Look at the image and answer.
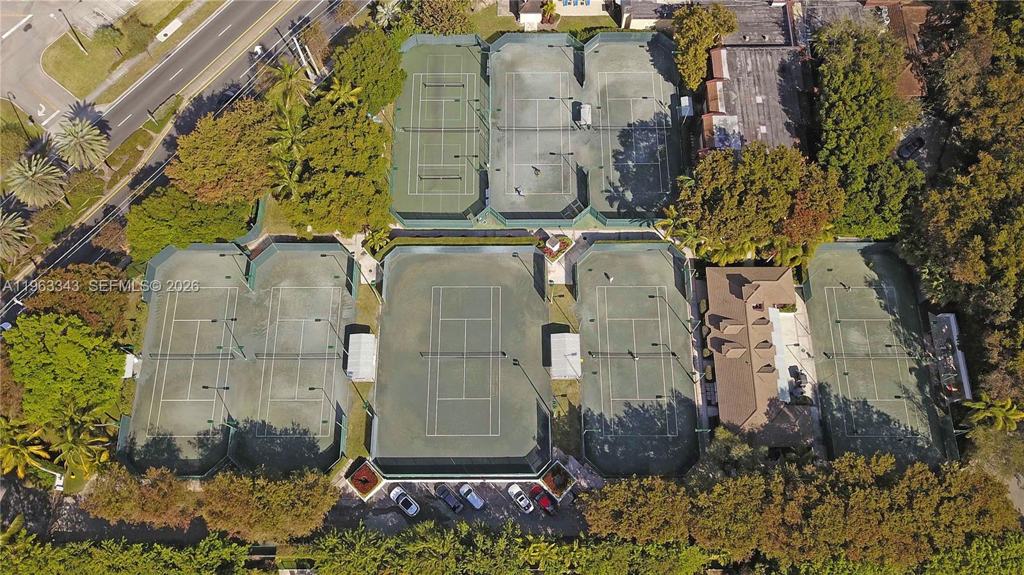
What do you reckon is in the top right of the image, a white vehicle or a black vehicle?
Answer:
black vehicle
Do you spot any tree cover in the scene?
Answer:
Yes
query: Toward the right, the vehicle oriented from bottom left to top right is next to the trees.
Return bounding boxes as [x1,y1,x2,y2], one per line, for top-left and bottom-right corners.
[898,137,924,159]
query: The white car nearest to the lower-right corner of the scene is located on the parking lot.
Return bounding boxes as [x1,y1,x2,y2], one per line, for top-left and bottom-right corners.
[505,482,535,515]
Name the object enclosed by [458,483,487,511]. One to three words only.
car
